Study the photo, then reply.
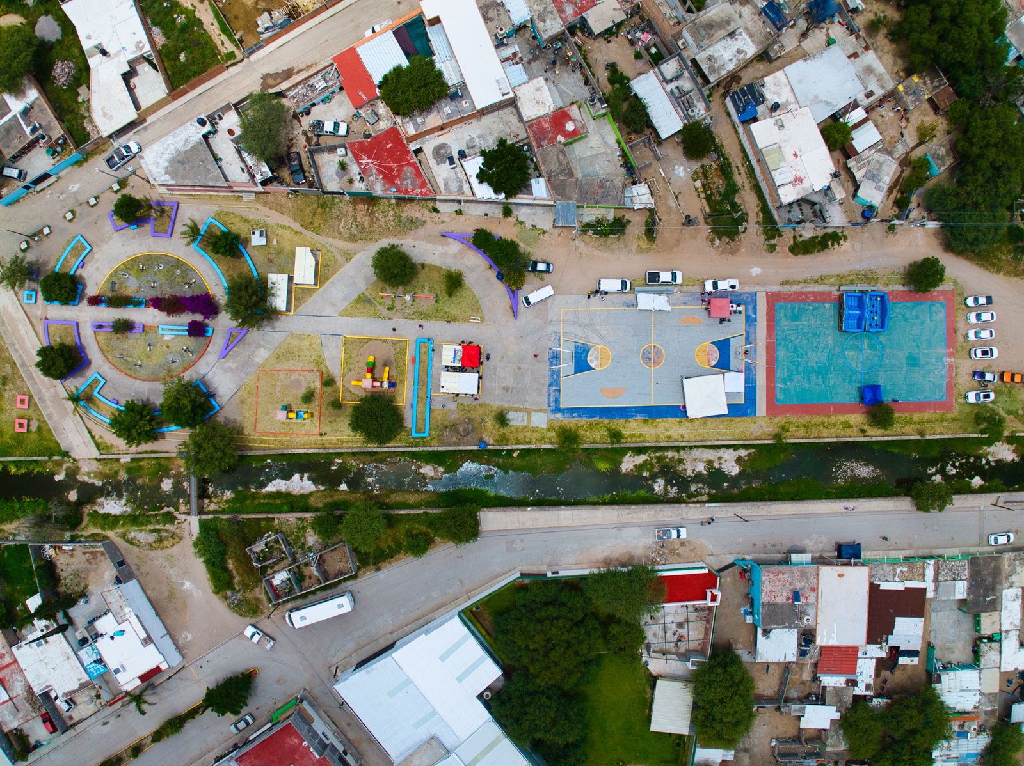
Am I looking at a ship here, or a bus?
bus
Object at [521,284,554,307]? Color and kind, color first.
white vehicle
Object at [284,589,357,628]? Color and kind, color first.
white bus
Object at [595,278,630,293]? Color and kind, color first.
white vehicle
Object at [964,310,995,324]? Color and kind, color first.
white car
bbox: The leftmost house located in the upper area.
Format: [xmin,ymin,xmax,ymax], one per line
[0,76,71,166]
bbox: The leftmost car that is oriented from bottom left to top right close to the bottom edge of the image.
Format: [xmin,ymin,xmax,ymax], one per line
[229,710,258,734]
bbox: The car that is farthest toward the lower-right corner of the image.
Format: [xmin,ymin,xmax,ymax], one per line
[985,531,1014,547]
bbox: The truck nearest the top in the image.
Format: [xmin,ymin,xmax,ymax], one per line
[363,15,394,37]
